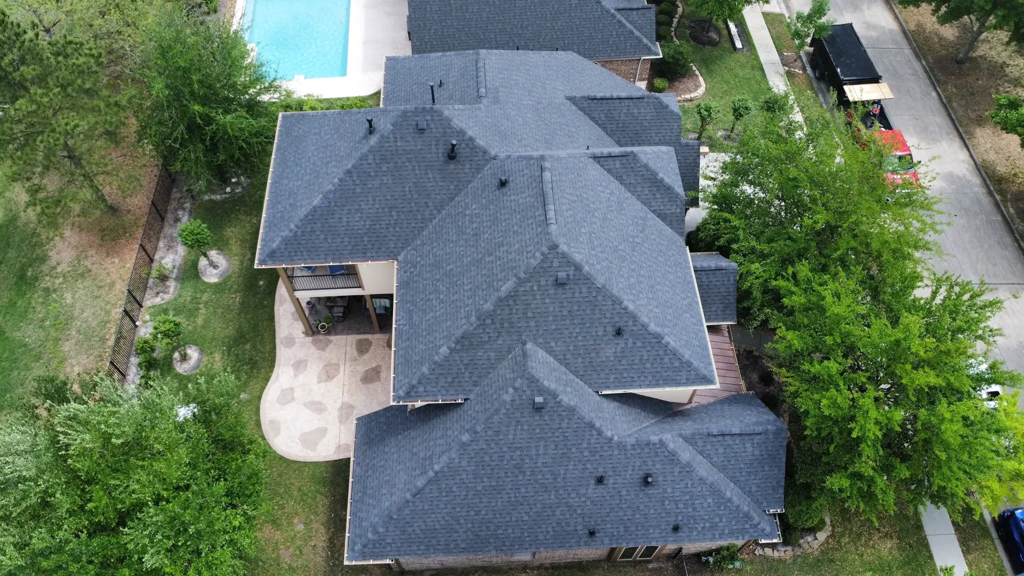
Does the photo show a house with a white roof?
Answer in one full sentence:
No, the photo shows no house with a white roof.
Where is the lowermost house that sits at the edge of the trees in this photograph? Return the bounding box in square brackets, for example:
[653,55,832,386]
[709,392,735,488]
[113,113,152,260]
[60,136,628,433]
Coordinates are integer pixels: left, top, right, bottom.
[253,50,787,571]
